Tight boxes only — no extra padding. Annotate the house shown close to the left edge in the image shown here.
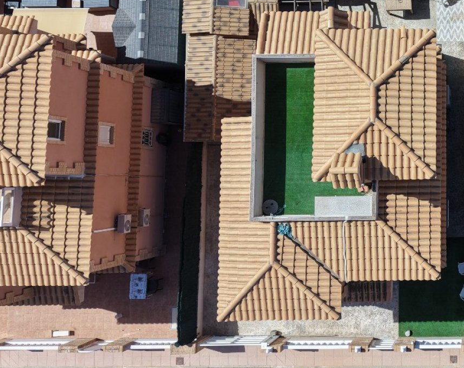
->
[0,8,161,310]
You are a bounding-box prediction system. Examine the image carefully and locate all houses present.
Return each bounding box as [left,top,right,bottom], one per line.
[0,8,161,310]
[213,2,453,323]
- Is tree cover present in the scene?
No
